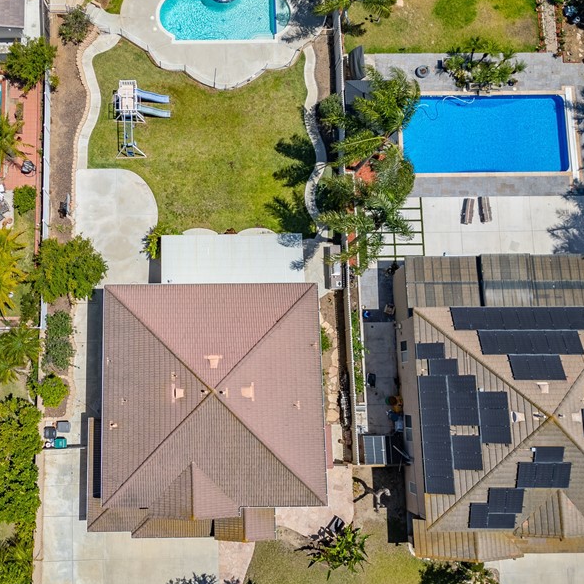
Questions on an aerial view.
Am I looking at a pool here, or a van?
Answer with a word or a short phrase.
pool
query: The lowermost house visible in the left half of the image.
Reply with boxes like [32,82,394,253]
[85,281,329,542]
